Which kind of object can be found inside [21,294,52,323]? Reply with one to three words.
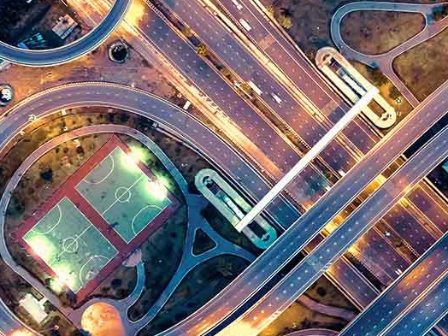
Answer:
building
